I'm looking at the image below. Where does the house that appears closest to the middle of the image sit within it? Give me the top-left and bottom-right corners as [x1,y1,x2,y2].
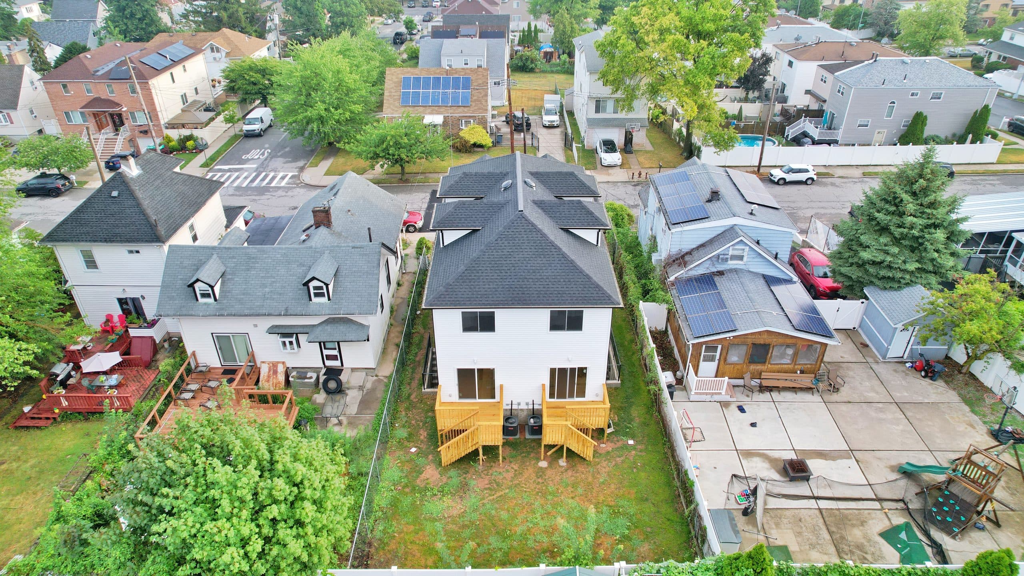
[418,149,627,423]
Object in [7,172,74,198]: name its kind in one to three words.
car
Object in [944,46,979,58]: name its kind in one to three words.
vehicle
